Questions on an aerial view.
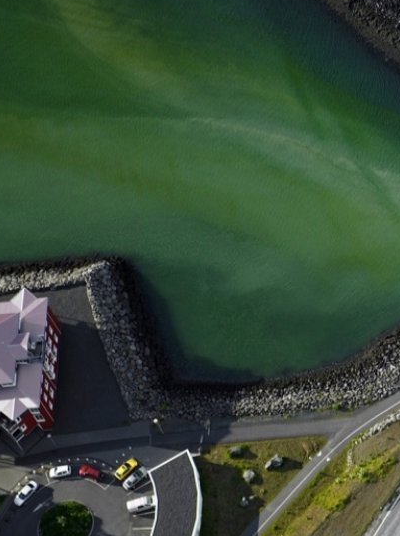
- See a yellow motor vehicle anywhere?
Yes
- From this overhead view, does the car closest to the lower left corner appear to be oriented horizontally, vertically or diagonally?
diagonally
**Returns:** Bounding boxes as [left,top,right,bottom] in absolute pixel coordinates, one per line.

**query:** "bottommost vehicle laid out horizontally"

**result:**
[126,496,155,514]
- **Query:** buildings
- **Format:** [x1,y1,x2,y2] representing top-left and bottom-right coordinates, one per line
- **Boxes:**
[0,291,54,464]
[147,449,202,536]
